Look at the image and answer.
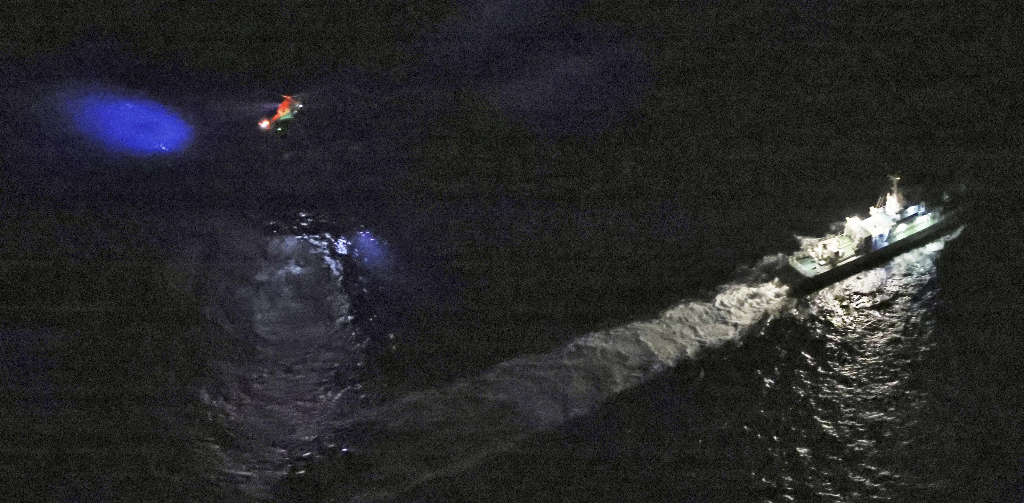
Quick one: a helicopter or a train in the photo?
helicopter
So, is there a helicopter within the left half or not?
Yes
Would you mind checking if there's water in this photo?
Yes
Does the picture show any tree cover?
No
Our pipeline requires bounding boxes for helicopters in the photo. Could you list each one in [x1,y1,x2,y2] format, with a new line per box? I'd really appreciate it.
[257,80,309,130]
